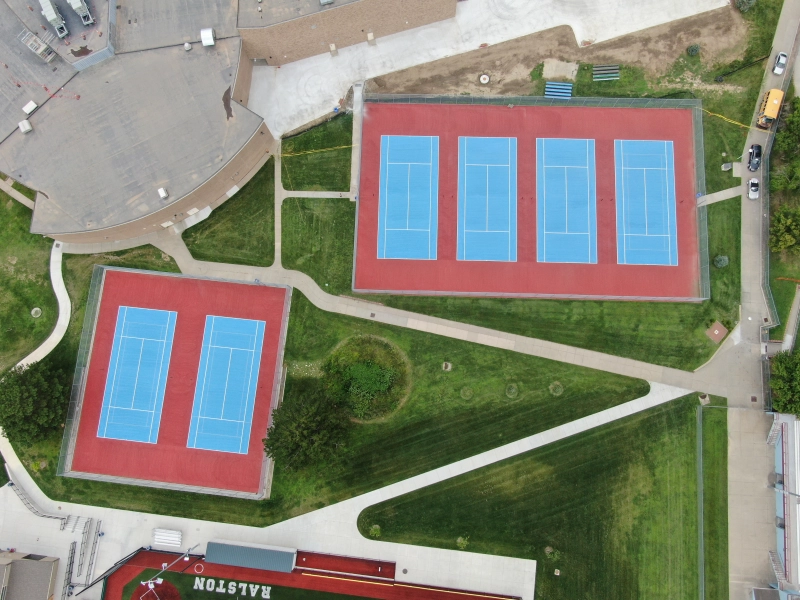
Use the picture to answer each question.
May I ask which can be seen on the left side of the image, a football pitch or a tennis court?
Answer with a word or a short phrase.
tennis court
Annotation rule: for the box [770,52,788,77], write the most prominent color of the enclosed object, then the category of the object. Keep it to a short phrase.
white car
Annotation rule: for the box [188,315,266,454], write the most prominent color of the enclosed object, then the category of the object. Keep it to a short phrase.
blue tennis court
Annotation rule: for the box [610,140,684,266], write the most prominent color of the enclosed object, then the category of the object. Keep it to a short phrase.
blue tennis court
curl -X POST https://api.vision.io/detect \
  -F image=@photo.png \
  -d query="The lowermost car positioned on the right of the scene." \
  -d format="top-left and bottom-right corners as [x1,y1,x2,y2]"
[745,177,760,201]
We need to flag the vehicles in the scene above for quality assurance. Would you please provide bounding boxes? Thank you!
[757,88,784,130]
[745,145,762,172]
[770,52,788,77]
[745,177,760,201]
